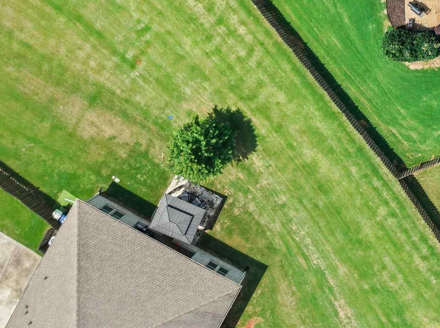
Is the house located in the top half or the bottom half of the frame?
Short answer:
bottom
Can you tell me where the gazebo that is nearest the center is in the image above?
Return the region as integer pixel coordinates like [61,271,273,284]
[148,186,215,245]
